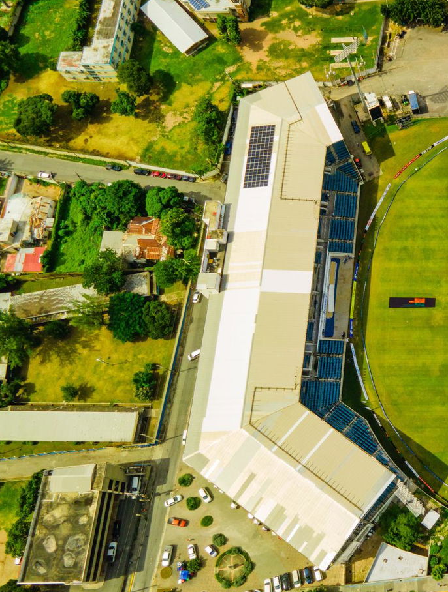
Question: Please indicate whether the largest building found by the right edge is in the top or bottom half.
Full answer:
The bottom half of the photo is where the largest building found by the right edge is.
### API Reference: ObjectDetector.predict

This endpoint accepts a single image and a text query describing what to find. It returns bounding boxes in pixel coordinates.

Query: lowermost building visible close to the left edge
[17,463,140,586]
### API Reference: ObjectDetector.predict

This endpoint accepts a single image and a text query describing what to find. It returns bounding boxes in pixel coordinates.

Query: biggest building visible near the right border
[365,542,429,582]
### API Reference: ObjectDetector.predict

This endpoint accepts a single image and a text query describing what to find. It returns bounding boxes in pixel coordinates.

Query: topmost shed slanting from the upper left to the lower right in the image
[141,0,211,60]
